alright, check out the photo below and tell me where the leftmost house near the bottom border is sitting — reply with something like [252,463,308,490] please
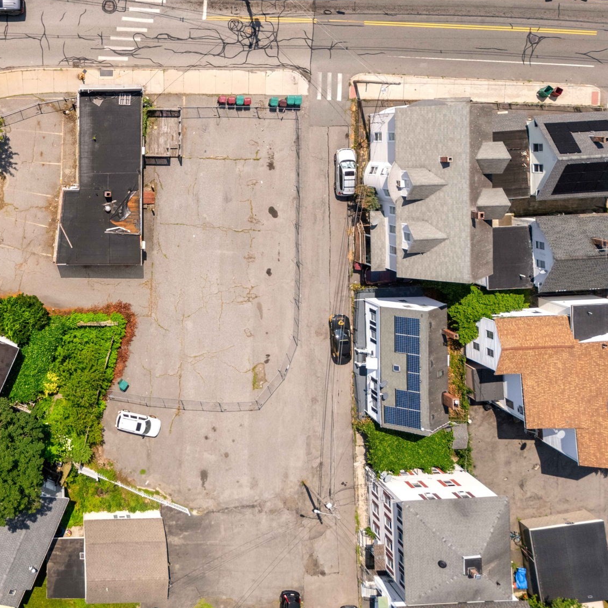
[0,474,70,606]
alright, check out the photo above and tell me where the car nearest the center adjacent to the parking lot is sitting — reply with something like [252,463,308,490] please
[327,312,354,365]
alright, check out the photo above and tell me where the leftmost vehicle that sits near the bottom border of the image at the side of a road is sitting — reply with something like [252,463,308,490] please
[276,590,300,608]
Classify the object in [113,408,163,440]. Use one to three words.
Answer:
car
